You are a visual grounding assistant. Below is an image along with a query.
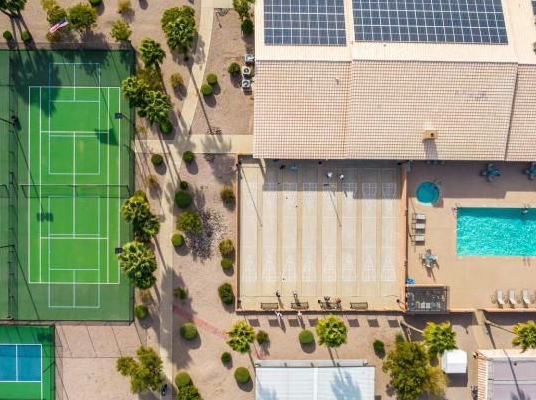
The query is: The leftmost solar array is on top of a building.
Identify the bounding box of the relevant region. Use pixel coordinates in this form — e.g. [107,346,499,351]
[263,0,345,44]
